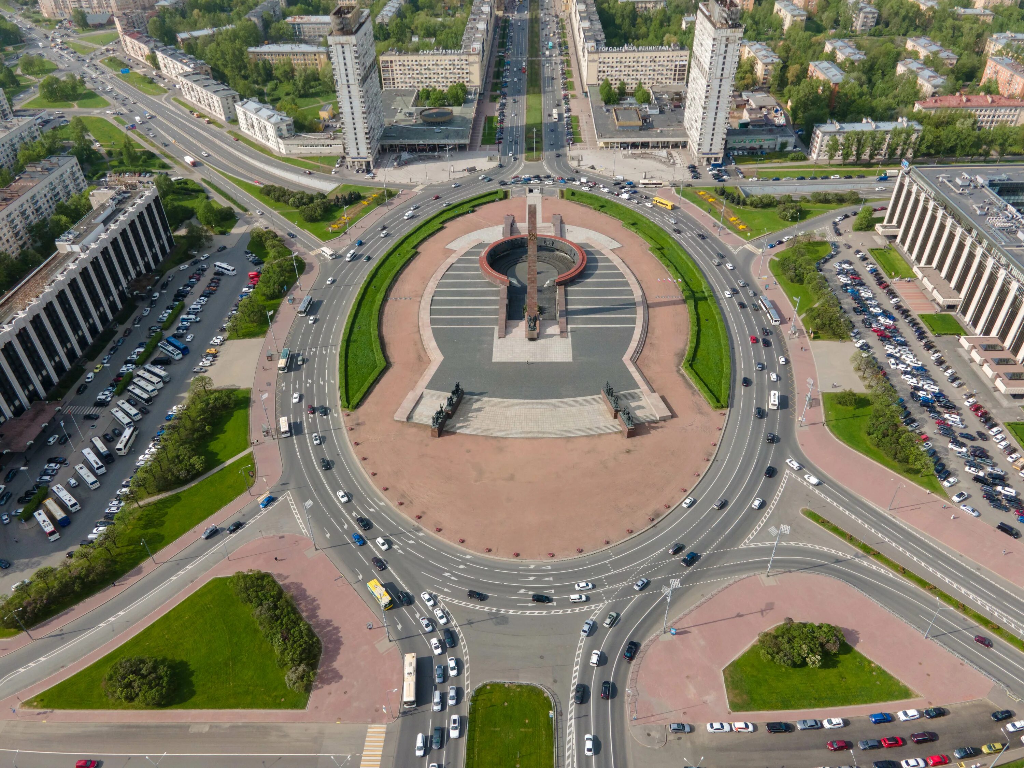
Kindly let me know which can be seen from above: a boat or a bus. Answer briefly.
bus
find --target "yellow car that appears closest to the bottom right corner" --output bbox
[979,742,1006,755]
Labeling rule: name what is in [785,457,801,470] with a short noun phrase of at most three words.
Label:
vehicle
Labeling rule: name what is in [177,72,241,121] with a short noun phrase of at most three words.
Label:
house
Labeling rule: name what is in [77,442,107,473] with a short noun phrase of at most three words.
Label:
bus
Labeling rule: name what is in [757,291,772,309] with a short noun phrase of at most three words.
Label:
vehicle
